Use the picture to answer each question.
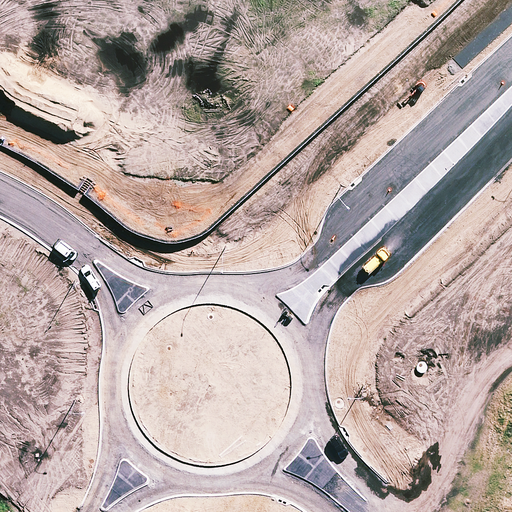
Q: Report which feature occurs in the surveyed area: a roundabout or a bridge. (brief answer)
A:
roundabout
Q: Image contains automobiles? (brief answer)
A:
Yes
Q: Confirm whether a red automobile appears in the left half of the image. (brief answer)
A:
No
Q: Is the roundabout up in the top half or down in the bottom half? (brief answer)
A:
bottom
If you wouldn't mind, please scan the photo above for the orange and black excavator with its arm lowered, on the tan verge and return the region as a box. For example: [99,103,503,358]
[396,80,430,109]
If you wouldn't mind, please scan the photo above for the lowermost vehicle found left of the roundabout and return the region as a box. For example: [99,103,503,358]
[81,265,100,293]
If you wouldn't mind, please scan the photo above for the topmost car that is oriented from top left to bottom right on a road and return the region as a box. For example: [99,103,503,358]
[53,241,78,263]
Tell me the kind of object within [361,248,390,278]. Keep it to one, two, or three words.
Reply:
truck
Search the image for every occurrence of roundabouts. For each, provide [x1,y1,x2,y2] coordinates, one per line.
[101,274,322,495]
